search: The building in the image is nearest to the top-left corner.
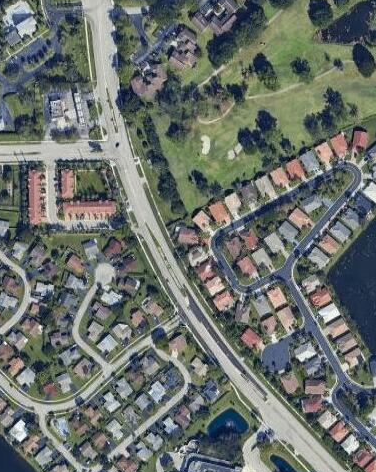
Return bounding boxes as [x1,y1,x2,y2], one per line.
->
[2,0,36,45]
